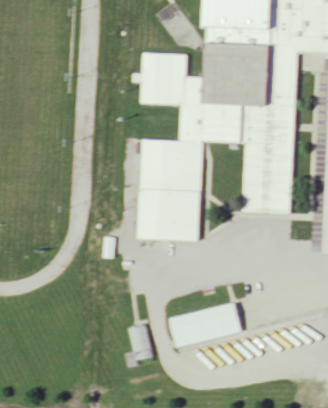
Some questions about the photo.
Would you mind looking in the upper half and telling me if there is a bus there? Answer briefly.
No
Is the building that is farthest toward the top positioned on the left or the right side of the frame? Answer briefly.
right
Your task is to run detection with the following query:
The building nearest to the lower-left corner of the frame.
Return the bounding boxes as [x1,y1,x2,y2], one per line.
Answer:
[128,326,154,360]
